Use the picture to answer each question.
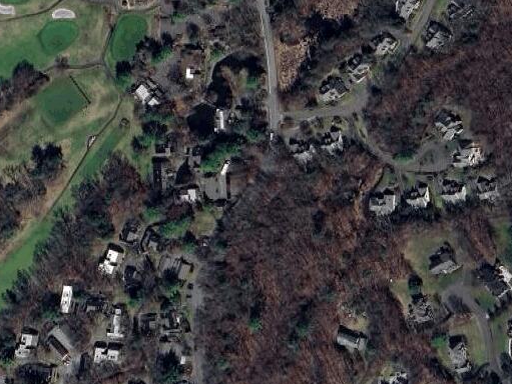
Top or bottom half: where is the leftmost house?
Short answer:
bottom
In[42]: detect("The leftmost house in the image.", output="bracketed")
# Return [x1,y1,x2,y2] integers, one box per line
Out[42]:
[16,330,38,356]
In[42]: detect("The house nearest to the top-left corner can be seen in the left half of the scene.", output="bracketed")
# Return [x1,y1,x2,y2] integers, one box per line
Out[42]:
[133,80,163,106]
